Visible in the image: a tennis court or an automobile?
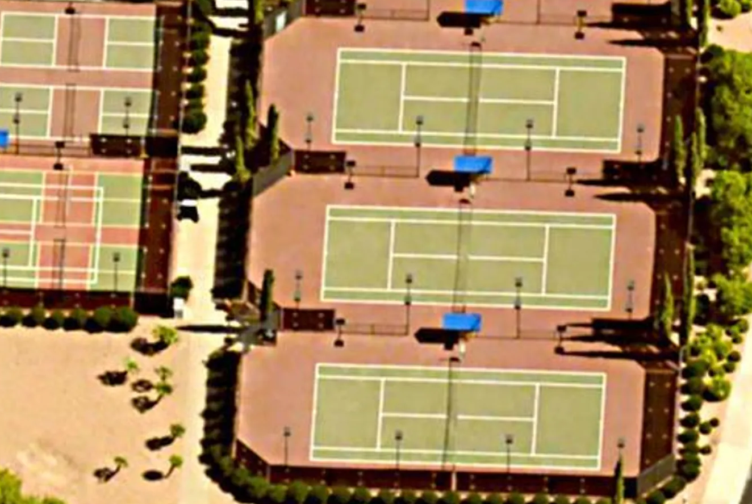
tennis court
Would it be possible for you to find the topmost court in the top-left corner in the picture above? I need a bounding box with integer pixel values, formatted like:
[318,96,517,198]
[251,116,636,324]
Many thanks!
[0,12,165,72]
